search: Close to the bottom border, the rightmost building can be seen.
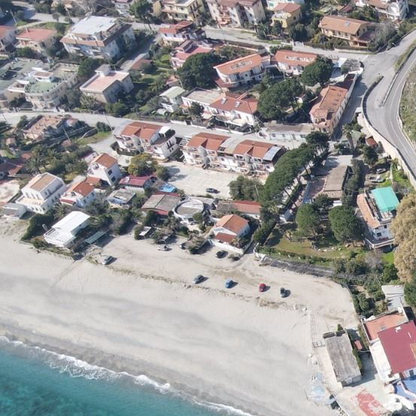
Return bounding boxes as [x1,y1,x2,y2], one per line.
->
[362,311,416,414]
